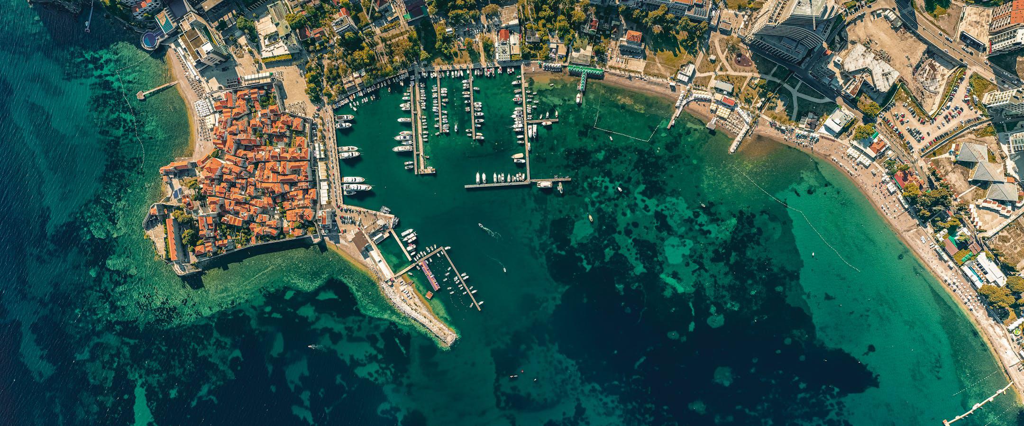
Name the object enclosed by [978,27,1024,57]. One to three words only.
building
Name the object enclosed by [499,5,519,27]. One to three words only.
house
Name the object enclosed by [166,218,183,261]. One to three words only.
building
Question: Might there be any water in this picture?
Yes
